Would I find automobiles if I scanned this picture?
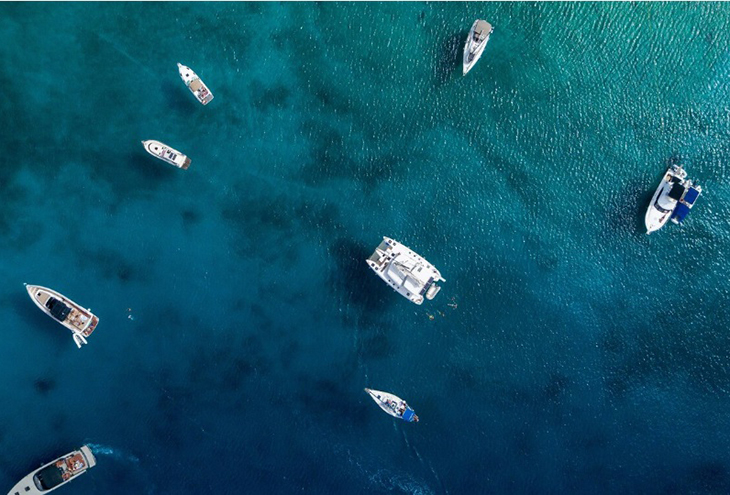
No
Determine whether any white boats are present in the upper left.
Yes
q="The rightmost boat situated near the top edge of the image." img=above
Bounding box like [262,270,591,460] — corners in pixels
[463,18,492,77]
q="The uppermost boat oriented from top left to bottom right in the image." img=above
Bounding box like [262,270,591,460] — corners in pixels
[177,63,215,106]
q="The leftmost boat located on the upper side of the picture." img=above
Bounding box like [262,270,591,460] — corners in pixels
[140,139,192,170]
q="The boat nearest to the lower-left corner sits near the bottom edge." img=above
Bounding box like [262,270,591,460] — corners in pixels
[11,446,96,495]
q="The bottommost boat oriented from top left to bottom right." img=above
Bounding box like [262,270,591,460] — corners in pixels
[364,389,418,429]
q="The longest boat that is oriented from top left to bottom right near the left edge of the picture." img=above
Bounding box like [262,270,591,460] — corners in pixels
[24,284,101,335]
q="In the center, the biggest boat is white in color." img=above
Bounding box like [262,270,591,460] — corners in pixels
[366,237,445,305]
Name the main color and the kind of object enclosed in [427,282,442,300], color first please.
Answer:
white boat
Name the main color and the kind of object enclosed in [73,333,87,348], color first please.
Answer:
white boat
